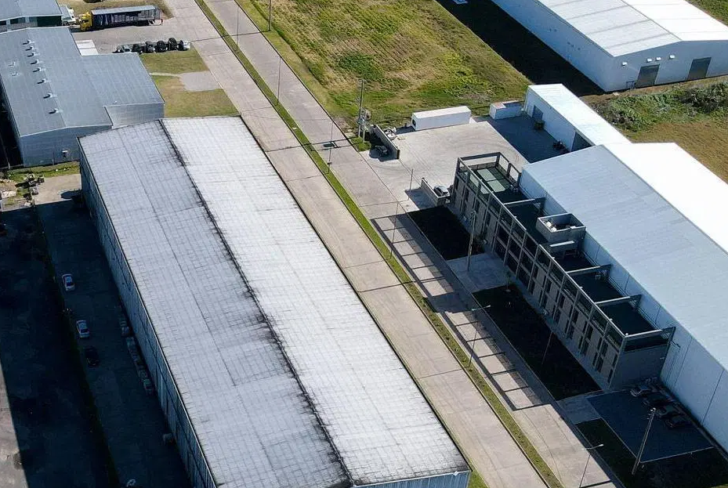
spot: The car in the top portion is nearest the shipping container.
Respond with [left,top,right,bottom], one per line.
[372,133,393,151]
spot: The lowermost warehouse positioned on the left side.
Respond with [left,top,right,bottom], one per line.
[75,114,476,488]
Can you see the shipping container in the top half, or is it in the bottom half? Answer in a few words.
top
